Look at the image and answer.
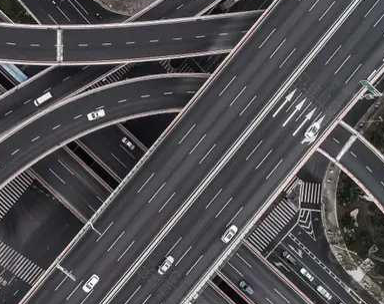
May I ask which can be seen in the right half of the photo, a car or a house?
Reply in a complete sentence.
The feature located in the right half of the photo is a car.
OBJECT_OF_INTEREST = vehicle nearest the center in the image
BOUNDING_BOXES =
[120,136,136,152]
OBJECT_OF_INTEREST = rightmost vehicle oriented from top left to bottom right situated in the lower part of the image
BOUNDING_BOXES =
[316,284,334,301]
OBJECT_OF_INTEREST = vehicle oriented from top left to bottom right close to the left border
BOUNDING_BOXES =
[0,64,26,83]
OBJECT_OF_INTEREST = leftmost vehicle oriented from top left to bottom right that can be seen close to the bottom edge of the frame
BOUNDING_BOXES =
[238,279,255,296]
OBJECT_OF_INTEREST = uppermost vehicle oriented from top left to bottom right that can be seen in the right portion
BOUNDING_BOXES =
[281,248,297,263]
